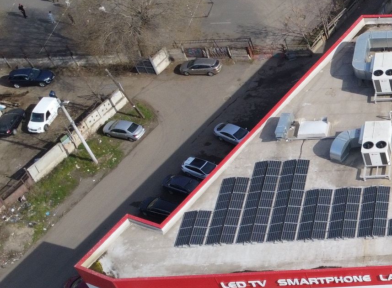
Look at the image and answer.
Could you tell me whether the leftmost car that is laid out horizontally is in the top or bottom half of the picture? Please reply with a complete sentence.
It is in the top half that the leftmost car that is laid out horizontally appears.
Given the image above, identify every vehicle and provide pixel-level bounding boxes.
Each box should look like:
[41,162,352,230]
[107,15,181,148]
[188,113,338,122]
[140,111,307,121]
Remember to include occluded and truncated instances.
[137,198,181,223]
[181,156,221,179]
[8,66,52,87]
[27,94,65,129]
[214,123,254,143]
[103,119,146,141]
[0,108,31,138]
[63,275,89,288]
[180,56,222,75]
[162,174,204,198]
